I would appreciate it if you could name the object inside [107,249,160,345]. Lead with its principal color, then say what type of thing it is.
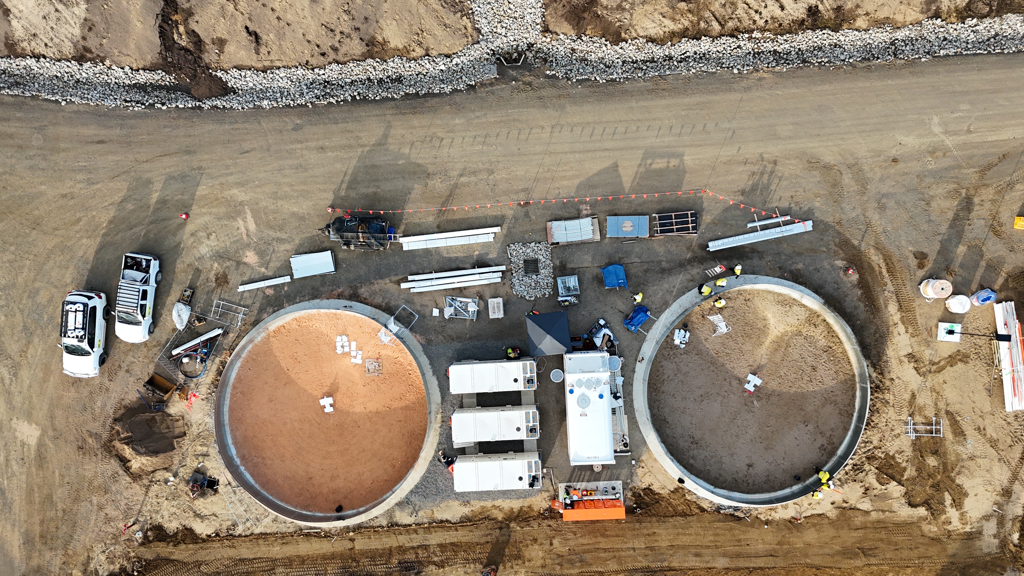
white vehicle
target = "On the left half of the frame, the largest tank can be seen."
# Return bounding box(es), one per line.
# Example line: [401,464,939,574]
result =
[213,298,441,527]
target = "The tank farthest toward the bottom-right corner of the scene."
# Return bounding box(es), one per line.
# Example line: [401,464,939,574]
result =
[633,273,869,509]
